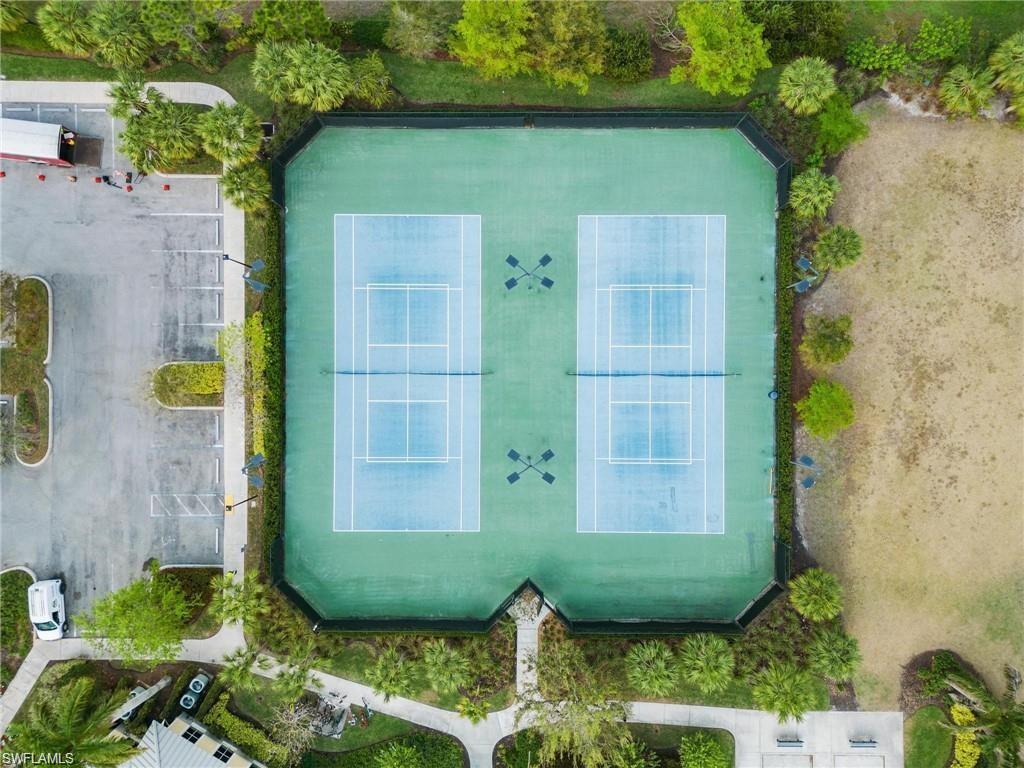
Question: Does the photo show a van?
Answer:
Yes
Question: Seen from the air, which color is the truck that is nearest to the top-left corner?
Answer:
white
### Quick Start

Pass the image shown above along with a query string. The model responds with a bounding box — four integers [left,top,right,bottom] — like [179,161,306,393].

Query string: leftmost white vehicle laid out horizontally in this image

[0,116,106,165]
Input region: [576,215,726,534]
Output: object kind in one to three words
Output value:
tennis court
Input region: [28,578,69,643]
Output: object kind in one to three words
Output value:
van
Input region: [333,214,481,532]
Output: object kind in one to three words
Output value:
tennis court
